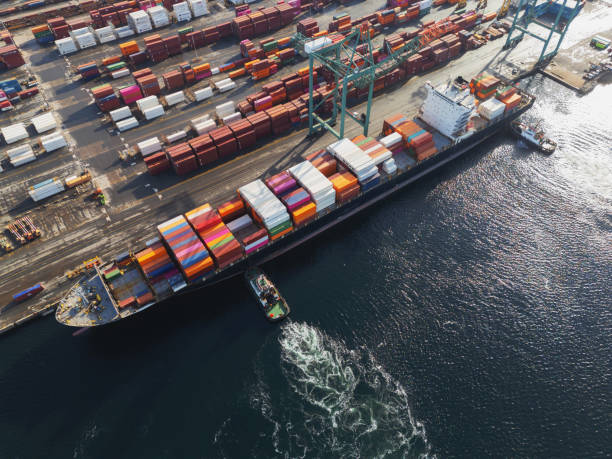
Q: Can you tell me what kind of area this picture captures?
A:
port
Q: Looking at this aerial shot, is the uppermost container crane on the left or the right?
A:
right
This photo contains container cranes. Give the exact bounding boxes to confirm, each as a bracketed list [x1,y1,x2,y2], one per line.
[301,13,472,142]
[503,0,583,66]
